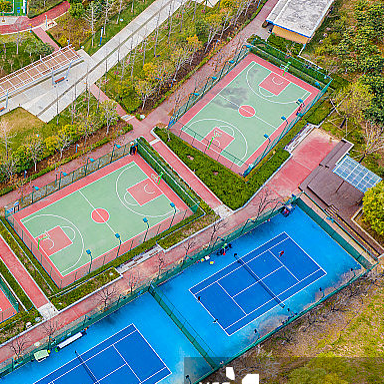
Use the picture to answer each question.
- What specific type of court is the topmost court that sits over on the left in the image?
basketball court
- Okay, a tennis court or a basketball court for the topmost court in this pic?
basketball court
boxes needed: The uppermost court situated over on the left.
[7,151,193,289]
